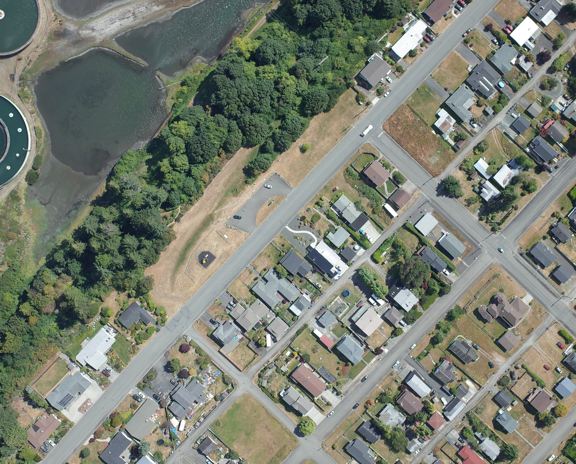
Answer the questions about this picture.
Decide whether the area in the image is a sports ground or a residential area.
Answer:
residential area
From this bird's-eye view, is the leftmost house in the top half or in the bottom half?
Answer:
bottom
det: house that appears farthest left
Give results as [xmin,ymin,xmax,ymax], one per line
[27,413,62,448]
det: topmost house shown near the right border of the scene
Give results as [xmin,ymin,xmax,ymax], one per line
[526,0,560,25]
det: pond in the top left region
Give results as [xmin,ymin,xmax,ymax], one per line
[42,0,255,174]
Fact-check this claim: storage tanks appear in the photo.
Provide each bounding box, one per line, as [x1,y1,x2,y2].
[0,93,33,188]
[0,0,44,58]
